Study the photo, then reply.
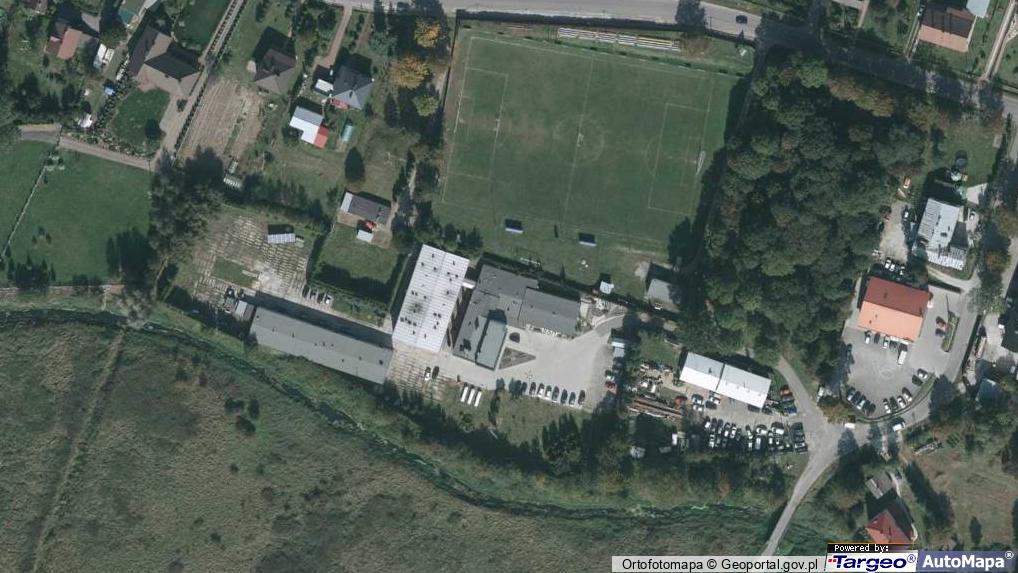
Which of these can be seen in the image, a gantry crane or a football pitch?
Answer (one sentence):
This aerial view contains a football pitch.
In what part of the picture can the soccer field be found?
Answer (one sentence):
You can find the soccer field in the top area of the picture.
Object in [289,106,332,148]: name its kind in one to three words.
barn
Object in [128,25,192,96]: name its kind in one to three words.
house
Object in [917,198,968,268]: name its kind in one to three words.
building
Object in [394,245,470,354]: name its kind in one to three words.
building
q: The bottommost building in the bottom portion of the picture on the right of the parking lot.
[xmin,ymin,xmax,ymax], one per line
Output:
[975,379,999,410]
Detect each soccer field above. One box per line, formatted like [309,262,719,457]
[431,16,752,272]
